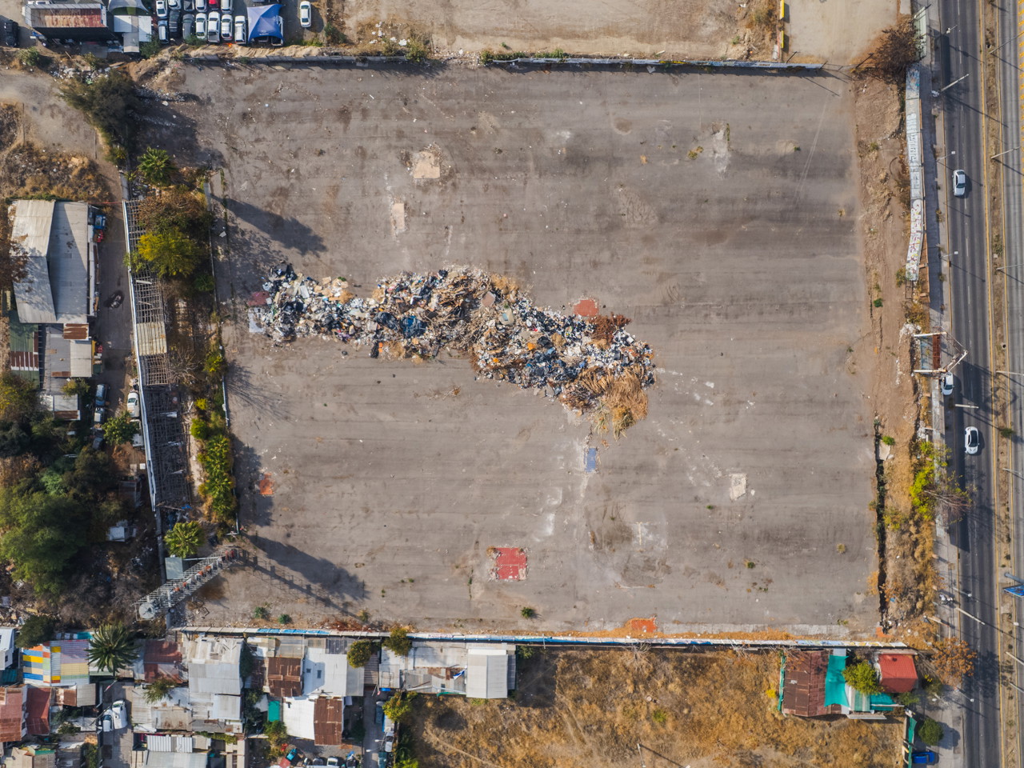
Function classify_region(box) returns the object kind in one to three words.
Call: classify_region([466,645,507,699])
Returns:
building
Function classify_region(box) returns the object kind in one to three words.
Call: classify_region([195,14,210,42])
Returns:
car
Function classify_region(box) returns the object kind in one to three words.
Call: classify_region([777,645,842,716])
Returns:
house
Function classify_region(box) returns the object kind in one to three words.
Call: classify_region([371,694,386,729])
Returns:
vehicle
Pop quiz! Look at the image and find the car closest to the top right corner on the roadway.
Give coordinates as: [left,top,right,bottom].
[949,168,966,199]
